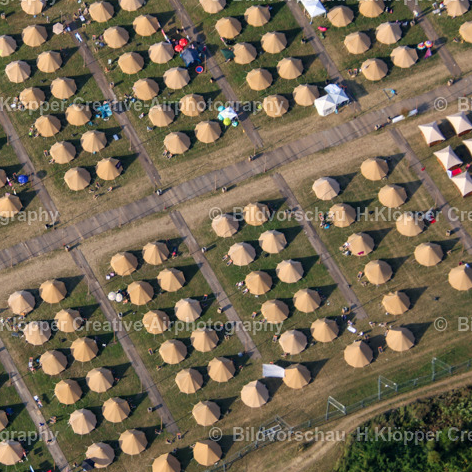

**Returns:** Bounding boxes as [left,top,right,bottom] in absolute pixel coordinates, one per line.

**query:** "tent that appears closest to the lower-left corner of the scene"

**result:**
[0,440,24,465]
